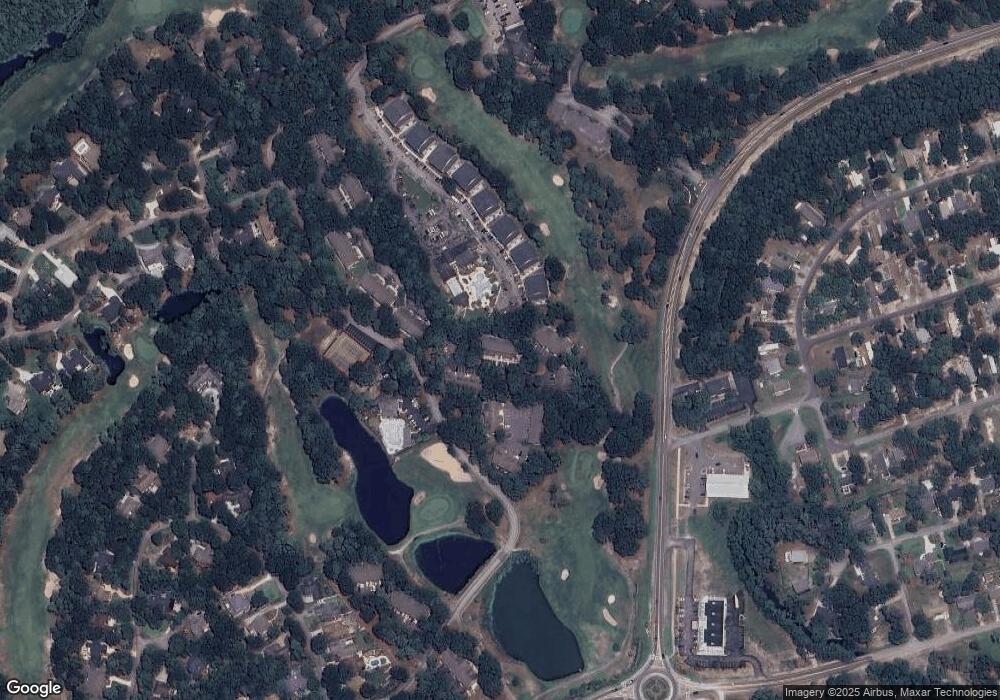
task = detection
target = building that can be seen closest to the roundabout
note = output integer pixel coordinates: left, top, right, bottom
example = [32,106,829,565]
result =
[691,596,727,655]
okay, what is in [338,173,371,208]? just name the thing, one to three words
building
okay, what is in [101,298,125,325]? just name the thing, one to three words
house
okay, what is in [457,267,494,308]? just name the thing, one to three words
swimming pool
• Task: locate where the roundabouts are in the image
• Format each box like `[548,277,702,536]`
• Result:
[632,665,682,700]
